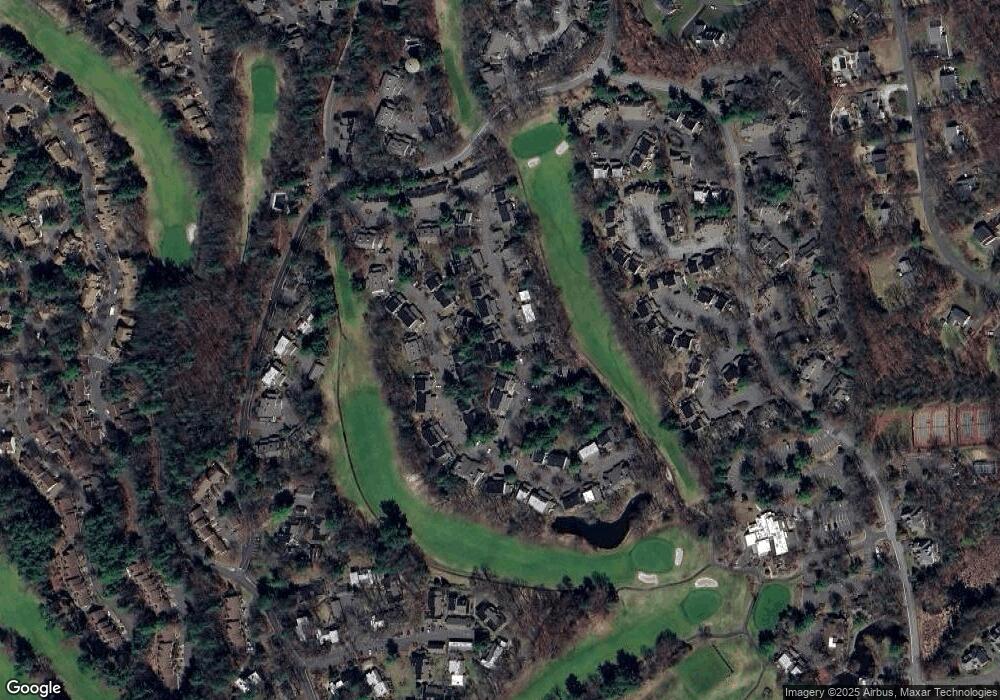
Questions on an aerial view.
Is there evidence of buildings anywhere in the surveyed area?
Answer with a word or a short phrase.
Yes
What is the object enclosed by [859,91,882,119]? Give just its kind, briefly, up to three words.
house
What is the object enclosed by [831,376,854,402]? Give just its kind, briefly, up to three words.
house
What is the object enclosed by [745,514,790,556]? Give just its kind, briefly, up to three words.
building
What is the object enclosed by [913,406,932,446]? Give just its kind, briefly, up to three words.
tennis court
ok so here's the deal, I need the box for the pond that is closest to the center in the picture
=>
[550,491,653,551]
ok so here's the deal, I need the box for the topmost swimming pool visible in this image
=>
[835,54,849,70]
